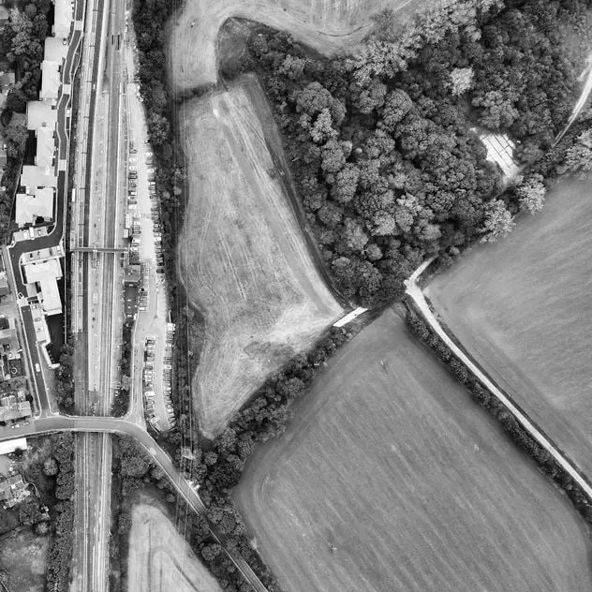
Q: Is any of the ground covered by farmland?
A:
Yes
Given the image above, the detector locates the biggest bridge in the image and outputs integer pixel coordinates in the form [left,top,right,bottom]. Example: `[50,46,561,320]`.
[34,415,145,437]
